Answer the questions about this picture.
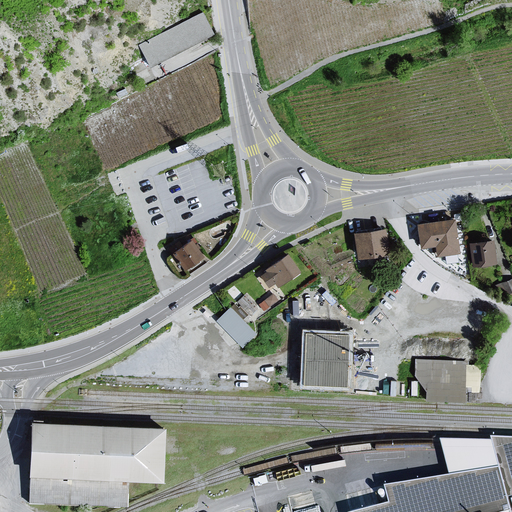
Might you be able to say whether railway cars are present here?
Yes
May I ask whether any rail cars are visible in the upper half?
No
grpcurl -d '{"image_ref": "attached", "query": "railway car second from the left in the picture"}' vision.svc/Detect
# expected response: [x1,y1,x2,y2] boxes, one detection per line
[289,449,338,466]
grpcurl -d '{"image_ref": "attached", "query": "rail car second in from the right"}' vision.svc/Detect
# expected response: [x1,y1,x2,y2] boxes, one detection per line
[339,443,374,456]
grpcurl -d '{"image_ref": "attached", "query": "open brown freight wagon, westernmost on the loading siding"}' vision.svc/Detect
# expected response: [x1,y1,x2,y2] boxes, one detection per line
[242,459,290,477]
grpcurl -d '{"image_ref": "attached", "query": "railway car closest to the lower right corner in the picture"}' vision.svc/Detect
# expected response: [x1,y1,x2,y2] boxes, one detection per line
[374,437,436,450]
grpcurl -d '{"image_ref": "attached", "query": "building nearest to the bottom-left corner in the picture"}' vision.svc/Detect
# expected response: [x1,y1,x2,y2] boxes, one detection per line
[30,424,166,508]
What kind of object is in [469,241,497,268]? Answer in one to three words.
house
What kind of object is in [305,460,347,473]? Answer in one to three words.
vehicle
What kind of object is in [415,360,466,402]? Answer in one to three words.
building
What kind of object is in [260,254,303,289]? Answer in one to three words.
house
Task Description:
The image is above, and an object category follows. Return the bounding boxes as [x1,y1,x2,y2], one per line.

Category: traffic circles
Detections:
[250,126,340,250]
